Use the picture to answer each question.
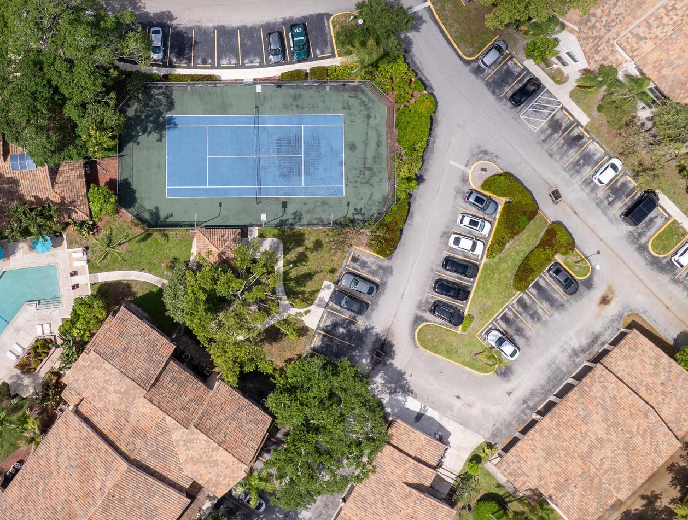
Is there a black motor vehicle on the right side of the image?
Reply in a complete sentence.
Yes, I can see a black motor vehicle on the right side of the image.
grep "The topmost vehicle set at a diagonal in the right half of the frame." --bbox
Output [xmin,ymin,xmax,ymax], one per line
[478,38,510,69]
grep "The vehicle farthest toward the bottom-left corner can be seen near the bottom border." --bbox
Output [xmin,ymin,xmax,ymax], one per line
[232,487,268,515]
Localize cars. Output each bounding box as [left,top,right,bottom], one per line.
[619,189,658,227]
[478,38,510,69]
[508,76,543,107]
[455,212,492,238]
[446,233,485,256]
[149,25,165,62]
[428,301,466,326]
[265,27,284,65]
[546,262,580,297]
[670,240,688,268]
[462,189,500,216]
[591,157,622,187]
[441,256,479,279]
[232,487,268,515]
[432,279,470,301]
[341,273,377,298]
[486,330,521,362]
[289,23,308,61]
[331,291,369,316]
